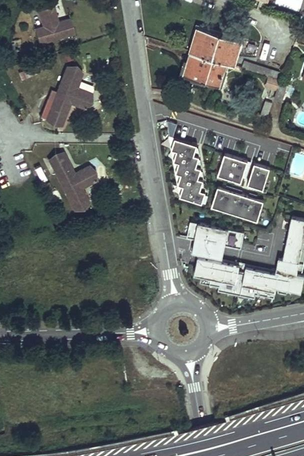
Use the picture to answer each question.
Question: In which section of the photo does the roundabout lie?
bottom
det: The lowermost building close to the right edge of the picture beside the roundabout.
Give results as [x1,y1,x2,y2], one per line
[186,220,304,302]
